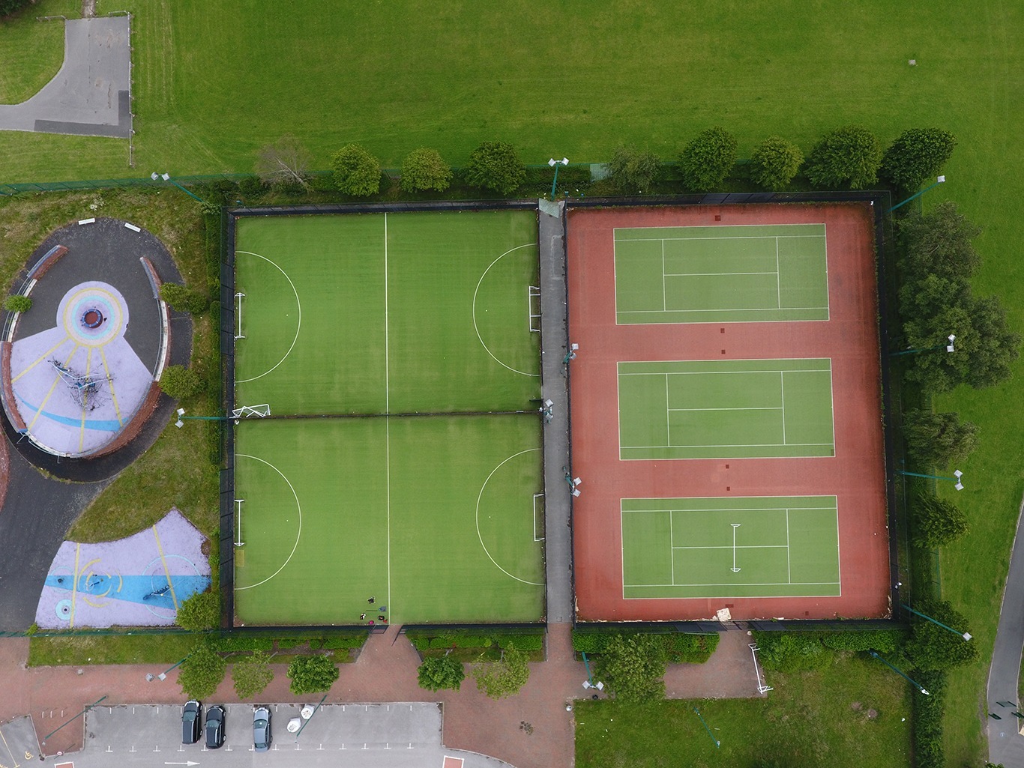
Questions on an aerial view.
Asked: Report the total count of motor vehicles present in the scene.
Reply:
3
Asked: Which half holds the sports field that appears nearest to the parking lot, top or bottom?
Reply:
bottom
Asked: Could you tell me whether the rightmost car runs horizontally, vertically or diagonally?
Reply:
vertically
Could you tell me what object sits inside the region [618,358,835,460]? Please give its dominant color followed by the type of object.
green tennis court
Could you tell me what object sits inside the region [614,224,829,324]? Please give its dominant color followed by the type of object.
green tennis court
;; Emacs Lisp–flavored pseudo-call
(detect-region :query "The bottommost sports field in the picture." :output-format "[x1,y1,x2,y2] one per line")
[234,413,545,627]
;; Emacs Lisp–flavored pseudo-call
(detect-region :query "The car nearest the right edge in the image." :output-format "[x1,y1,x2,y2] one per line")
[250,707,272,752]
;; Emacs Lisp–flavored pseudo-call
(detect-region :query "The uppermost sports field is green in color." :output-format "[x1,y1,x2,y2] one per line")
[235,209,541,416]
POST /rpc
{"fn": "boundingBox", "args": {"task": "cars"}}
[202,705,225,749]
[179,701,202,743]
[250,707,272,752]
